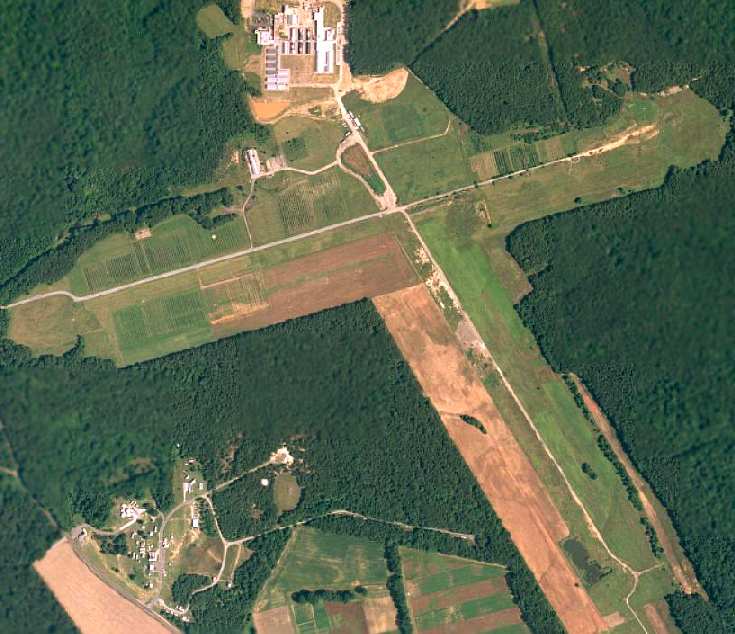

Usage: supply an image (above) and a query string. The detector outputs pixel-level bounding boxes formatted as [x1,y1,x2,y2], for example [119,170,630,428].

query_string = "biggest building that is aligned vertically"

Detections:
[317,19,334,72]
